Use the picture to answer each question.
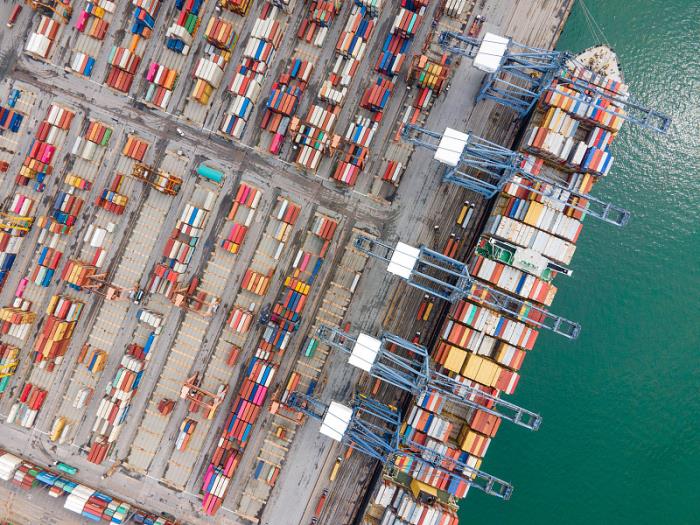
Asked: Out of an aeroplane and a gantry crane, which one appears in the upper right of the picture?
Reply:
gantry crane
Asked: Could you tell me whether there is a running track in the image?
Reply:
No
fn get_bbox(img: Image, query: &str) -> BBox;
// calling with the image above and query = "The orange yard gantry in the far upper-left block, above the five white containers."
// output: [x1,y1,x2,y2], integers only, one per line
[24,0,83,39]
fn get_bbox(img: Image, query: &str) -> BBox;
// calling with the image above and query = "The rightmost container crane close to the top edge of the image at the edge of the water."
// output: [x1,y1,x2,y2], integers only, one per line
[437,18,669,129]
